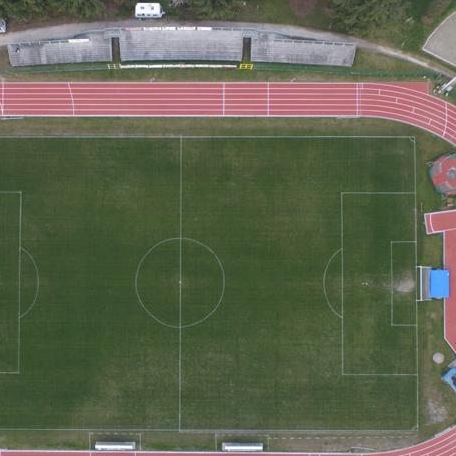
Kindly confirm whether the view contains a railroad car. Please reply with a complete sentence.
No, I find no railroad car anywhere in the image.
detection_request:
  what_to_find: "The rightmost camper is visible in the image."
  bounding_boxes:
[136,0,165,17]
